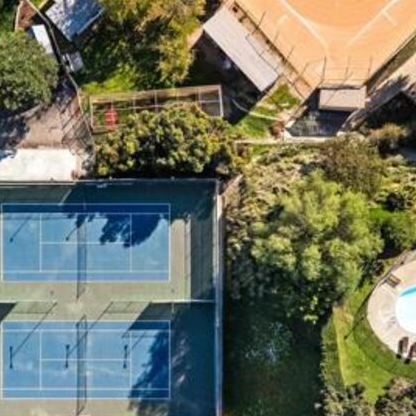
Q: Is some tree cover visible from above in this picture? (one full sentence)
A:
Yes, tree cover shows up in the scene.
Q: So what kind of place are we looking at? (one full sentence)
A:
It's a sports ground.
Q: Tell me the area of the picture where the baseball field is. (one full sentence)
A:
Look in the top right portion of the view to spot the baseball field.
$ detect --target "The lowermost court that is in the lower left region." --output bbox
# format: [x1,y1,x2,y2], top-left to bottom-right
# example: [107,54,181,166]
[0,301,220,416]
